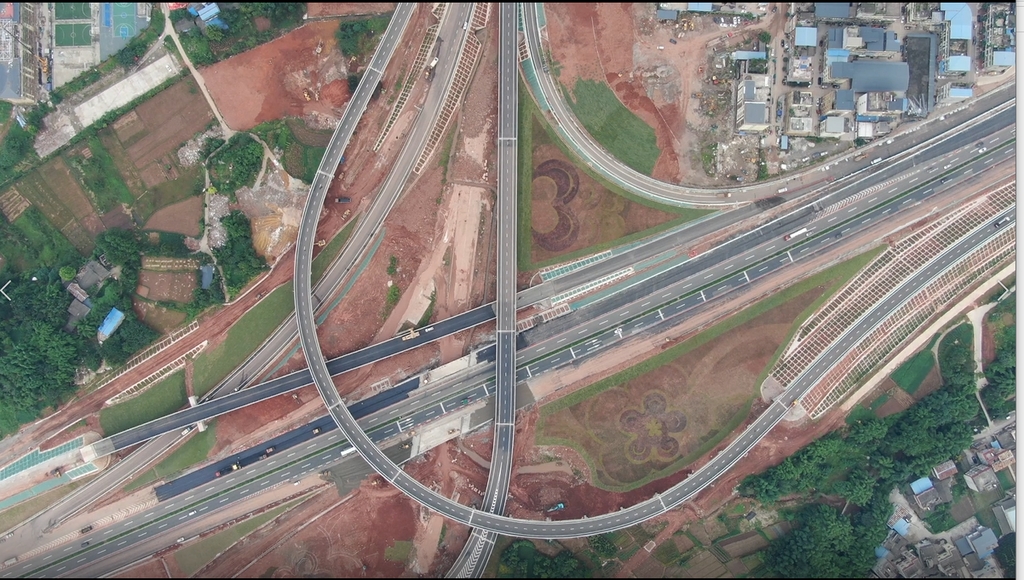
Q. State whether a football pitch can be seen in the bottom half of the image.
No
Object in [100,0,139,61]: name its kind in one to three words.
basketball court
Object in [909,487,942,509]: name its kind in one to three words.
house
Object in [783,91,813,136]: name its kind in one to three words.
building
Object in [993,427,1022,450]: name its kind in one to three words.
house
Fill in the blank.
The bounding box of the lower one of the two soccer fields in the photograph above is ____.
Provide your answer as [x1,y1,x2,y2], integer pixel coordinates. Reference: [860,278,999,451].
[53,22,92,47]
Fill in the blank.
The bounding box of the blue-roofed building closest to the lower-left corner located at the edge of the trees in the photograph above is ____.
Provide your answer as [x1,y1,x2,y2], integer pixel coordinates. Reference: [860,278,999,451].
[99,308,127,335]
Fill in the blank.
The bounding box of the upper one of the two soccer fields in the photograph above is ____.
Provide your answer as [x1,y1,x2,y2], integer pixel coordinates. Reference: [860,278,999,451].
[53,0,92,20]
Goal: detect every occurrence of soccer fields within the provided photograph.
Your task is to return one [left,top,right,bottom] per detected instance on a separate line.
[53,0,92,20]
[53,22,92,47]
